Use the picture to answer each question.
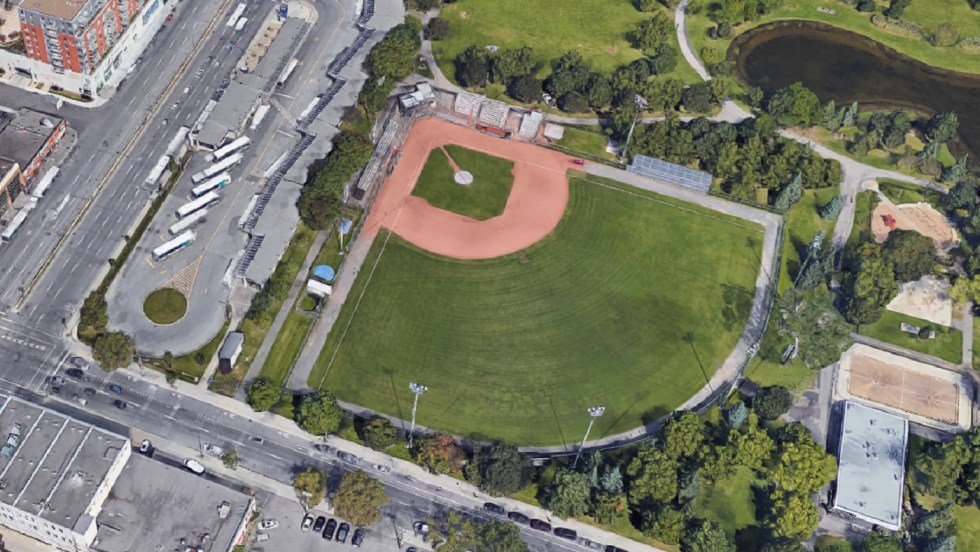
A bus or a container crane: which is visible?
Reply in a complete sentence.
This aerial view contains a bus.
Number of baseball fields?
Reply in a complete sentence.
In total, there is 1 baseball field in the scene.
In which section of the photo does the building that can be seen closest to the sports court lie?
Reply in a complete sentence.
The building that can be seen closest to the sports court is in the bottom right part of the image.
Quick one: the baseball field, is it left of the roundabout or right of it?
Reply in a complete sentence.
The roundabout has the baseball field on its right side.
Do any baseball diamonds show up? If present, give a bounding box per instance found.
[285,118,783,453]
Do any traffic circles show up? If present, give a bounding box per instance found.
[144,289,188,325]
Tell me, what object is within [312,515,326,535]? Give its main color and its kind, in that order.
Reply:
black car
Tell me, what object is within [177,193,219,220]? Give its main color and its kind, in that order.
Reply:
white bus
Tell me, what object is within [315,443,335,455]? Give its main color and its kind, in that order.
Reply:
gray vehicle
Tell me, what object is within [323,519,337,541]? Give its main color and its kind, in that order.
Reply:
black car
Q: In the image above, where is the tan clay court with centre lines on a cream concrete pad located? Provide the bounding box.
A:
[836,344,972,430]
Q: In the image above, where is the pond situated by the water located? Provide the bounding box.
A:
[726,20,980,183]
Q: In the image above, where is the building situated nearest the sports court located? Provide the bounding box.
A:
[827,401,907,540]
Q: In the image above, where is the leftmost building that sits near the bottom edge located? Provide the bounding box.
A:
[0,396,132,548]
